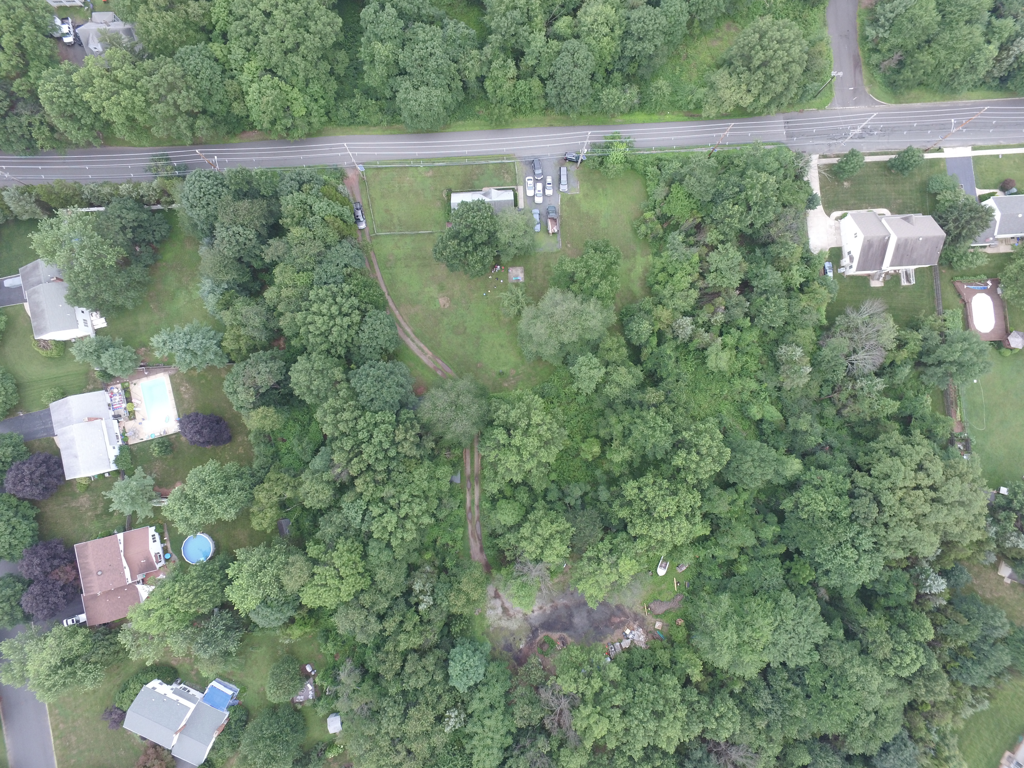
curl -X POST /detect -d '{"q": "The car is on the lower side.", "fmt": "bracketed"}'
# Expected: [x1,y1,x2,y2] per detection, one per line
[62,615,85,628]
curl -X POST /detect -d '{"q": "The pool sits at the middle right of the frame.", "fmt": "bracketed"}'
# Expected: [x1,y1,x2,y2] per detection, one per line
[972,293,995,333]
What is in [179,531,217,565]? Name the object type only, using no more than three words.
swimming pool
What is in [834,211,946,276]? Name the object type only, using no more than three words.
house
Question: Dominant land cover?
trees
